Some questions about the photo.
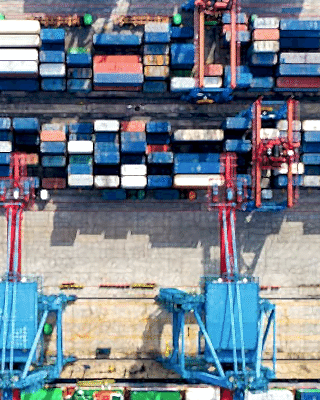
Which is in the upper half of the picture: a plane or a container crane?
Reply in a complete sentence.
It is a container crane that can be seen in the upper half of the picture.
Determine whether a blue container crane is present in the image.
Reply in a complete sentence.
Yes, the image includes a blue container crane.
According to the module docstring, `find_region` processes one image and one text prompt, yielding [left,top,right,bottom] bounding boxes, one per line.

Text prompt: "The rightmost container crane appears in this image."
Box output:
[240,93,297,216]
